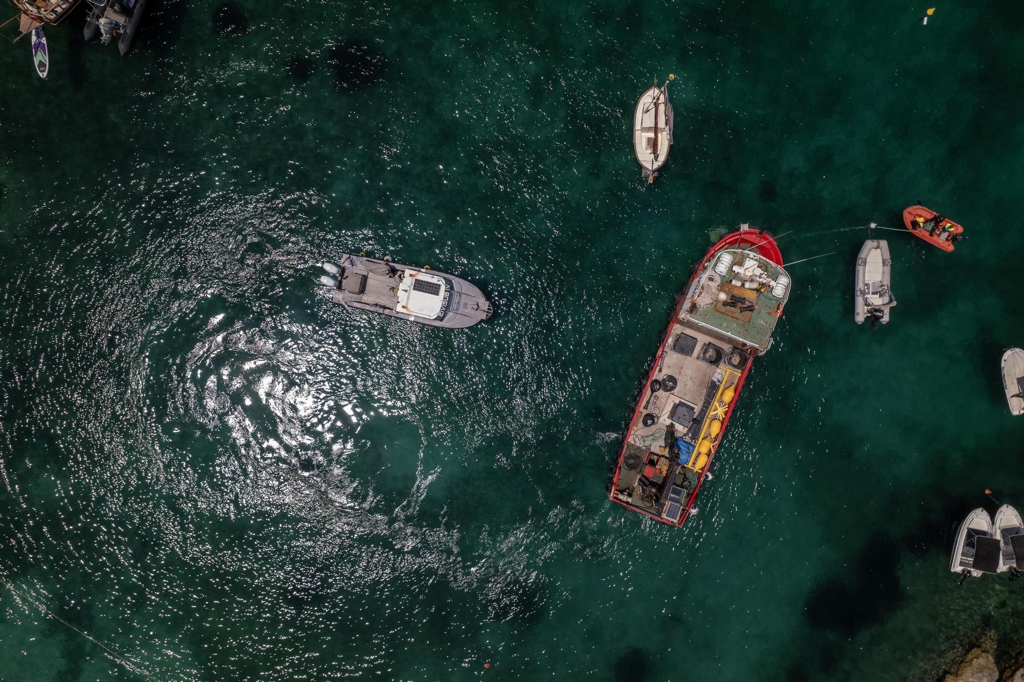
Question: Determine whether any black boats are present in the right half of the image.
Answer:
Yes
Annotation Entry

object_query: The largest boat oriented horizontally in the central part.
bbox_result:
[320,252,493,329]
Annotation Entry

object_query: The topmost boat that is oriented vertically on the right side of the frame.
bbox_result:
[633,75,674,183]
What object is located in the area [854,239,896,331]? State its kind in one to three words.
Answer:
boat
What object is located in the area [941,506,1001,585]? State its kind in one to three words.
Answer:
boat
